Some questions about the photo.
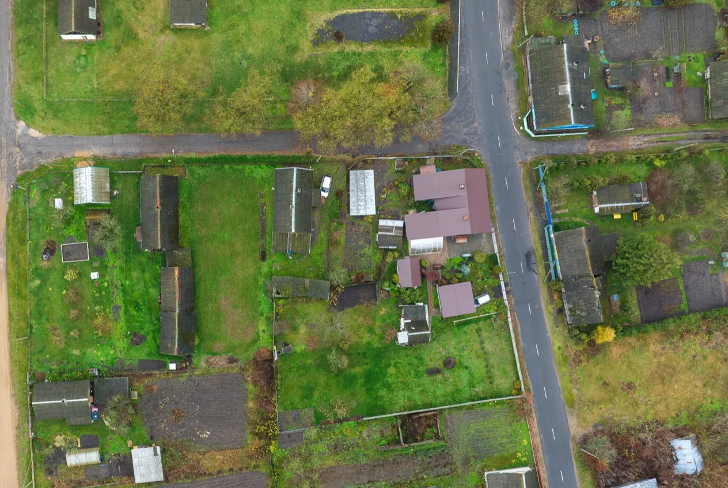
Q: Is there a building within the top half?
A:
Yes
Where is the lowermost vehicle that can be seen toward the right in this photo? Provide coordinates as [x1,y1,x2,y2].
[474,293,492,306]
